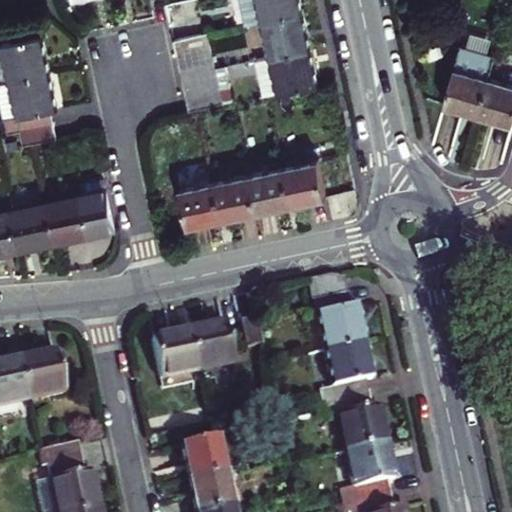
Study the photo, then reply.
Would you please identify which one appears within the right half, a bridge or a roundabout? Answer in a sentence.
It is a roundabout that can be seen within the right half.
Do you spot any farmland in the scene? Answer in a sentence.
No, farmland can't be seen anywhere here.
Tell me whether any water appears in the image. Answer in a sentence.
No, water can't be seen anywhere here.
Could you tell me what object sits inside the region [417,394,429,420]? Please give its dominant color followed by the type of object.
red vehicle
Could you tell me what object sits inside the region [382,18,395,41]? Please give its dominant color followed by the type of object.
white vehicle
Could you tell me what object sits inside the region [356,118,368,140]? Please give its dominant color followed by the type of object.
white vehicle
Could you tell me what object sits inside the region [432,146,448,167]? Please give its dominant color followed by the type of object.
white car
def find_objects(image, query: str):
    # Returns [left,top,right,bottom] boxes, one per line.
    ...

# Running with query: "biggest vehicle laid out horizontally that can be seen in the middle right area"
[414,238,448,257]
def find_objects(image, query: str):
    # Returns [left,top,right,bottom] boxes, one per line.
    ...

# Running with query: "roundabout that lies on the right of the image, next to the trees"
[366,174,470,290]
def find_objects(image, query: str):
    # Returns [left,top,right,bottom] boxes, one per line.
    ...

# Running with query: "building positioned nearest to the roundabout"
[326,190,358,221]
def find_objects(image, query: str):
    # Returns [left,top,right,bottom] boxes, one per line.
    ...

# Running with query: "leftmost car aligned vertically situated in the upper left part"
[88,40,100,60]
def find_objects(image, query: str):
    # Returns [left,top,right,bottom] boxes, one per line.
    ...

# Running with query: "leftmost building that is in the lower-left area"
[0,352,36,406]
